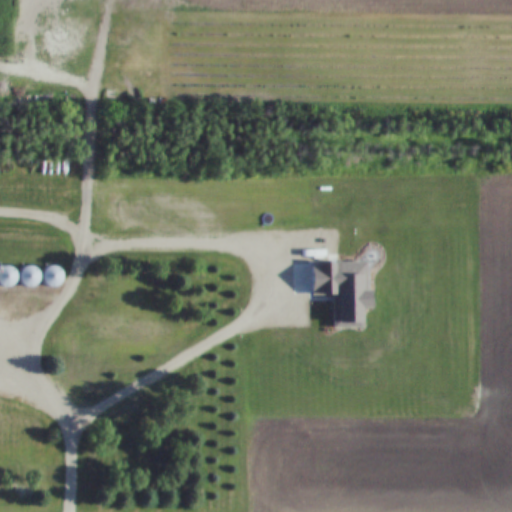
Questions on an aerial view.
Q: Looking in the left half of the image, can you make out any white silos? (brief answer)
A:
Yes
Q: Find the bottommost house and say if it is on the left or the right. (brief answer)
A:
right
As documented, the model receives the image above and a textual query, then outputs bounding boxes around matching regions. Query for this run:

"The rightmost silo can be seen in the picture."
[42,265,64,286]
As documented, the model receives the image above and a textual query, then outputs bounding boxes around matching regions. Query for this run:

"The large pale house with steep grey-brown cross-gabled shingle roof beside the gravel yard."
[314,261,376,323]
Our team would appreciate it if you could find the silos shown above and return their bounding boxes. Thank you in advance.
[19,265,42,286]
[0,265,18,286]
[42,265,64,286]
